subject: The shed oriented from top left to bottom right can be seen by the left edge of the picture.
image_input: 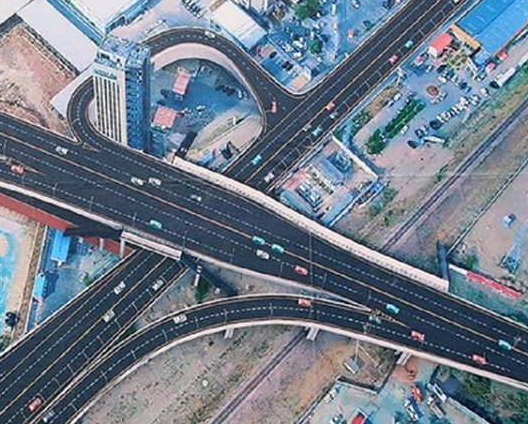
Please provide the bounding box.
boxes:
[16,0,98,78]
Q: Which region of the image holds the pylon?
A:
right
